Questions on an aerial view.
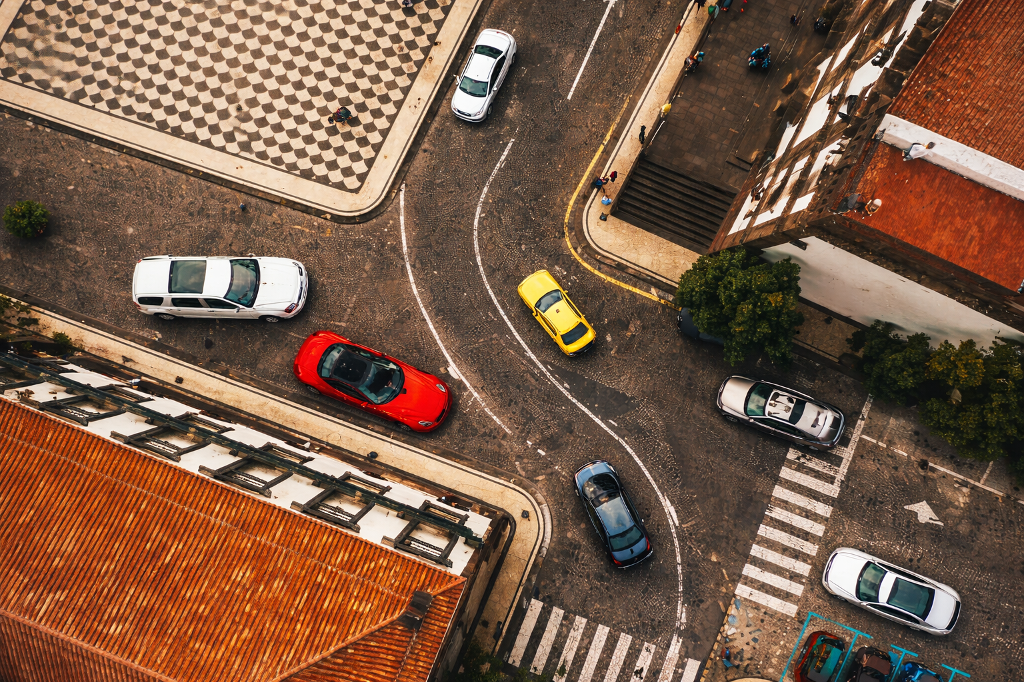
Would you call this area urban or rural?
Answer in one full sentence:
The land in this view is best described as urban.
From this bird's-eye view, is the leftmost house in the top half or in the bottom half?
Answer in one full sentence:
The leftmost house is in the bottom half of the image.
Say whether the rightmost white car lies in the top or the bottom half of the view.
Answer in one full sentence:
The rightmost white car sits in the bottom half of the picture.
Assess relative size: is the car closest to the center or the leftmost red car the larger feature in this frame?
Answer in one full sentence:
The leftmost red car takes up more space than the car closest to the center does.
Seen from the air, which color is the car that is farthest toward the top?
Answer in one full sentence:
The color of the car that is farthest toward the top is white.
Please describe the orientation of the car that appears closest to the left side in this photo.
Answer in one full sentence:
The car that appears closest to the left side is oriented horizontally.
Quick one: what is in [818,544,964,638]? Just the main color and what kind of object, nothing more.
white car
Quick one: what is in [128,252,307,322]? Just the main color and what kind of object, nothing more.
white car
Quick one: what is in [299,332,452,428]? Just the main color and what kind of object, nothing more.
red car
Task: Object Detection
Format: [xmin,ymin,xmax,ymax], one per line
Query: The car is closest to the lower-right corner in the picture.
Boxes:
[885,656,936,682]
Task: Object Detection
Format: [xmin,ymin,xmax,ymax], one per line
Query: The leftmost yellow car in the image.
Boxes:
[521,271,597,357]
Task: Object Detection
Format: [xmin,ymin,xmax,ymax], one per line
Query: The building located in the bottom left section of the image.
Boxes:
[0,325,516,682]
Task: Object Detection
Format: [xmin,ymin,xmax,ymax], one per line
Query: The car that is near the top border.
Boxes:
[454,29,517,126]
